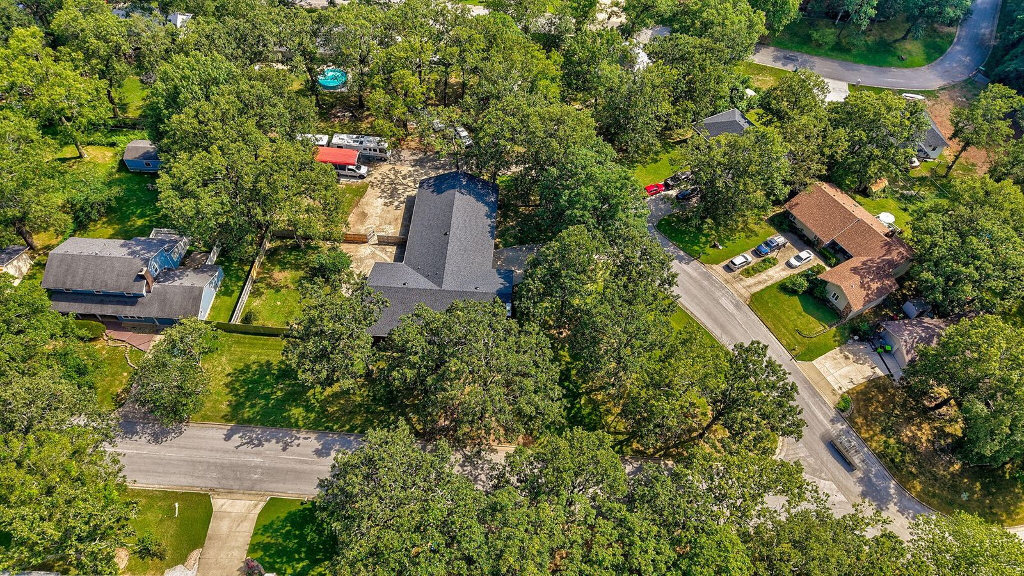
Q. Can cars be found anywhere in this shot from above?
Yes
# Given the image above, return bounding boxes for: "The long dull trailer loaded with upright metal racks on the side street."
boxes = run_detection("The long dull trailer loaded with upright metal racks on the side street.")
[829,428,873,472]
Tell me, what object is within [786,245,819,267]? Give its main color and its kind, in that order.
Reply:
white car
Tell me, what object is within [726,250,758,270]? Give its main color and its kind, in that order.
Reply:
white car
